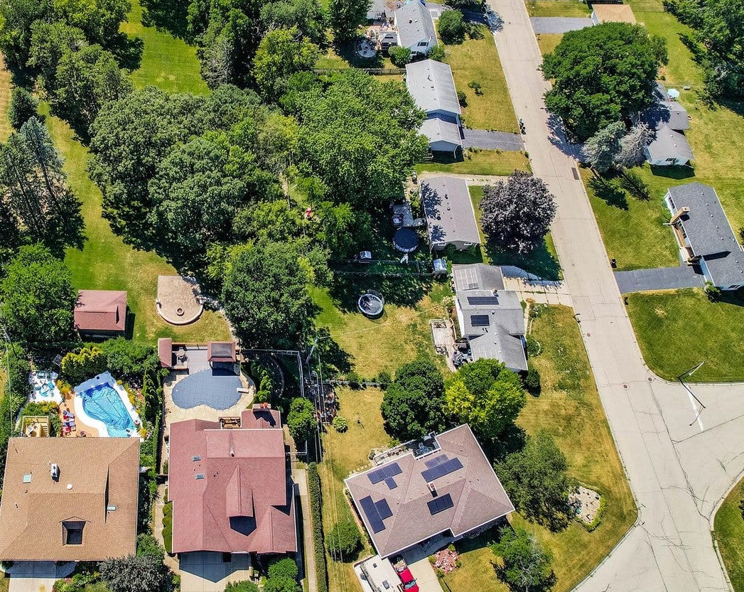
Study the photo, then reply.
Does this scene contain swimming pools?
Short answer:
Yes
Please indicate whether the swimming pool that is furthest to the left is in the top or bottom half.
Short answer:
bottom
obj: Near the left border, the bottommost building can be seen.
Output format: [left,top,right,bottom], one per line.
[0,437,143,561]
